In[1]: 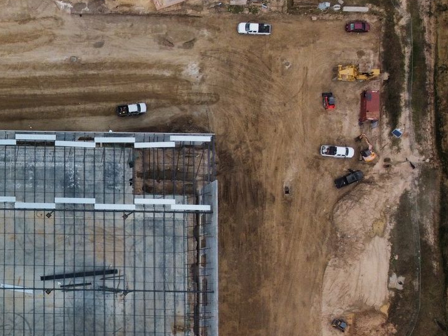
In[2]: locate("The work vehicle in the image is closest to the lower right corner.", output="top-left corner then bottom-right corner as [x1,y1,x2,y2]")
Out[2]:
[327,316,349,332]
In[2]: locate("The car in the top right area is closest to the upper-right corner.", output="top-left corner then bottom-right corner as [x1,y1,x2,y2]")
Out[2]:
[345,20,370,34]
